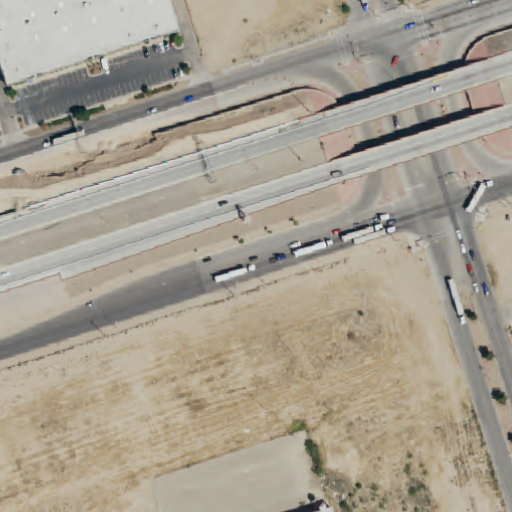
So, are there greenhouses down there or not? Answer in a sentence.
No, the picture doesn't show any greenhouse.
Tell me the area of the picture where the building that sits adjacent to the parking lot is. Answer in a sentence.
The building that sits adjacent to the parking lot is located in the top left region of the scene.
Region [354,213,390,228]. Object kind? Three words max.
vehicle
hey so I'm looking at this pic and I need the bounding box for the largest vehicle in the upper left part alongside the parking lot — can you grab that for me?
[42,130,85,148]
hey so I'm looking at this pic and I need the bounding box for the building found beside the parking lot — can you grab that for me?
[0,0,180,85]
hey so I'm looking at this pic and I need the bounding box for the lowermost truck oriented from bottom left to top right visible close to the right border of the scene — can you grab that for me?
[466,180,496,212]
